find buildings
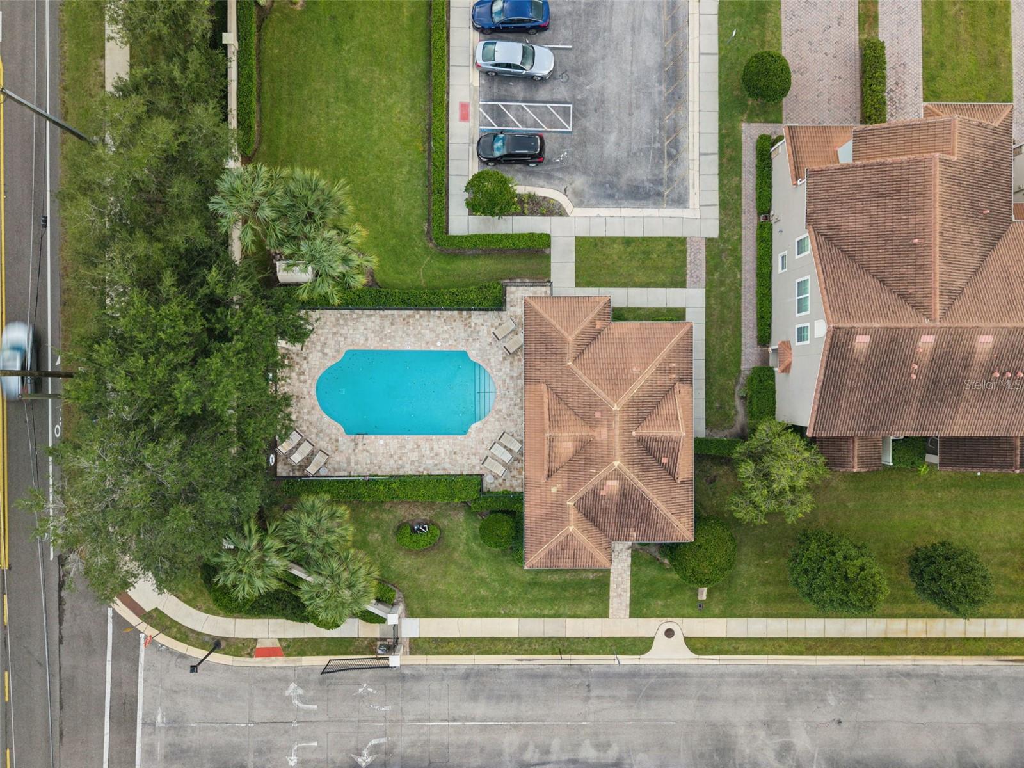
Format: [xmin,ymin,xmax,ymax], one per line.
[767,101,1024,476]
[522,294,696,570]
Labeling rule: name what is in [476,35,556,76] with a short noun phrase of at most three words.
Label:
car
